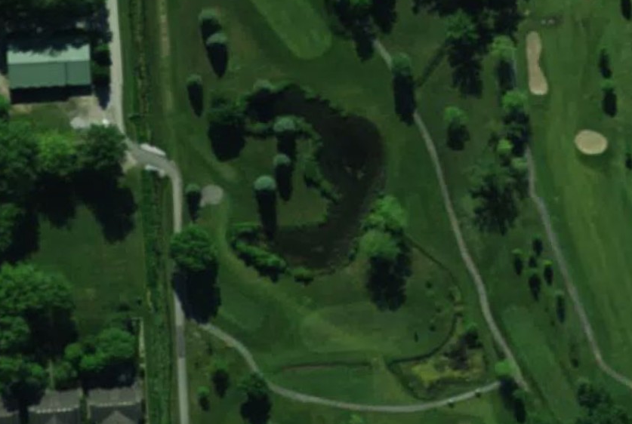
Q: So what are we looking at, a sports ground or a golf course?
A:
golf course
